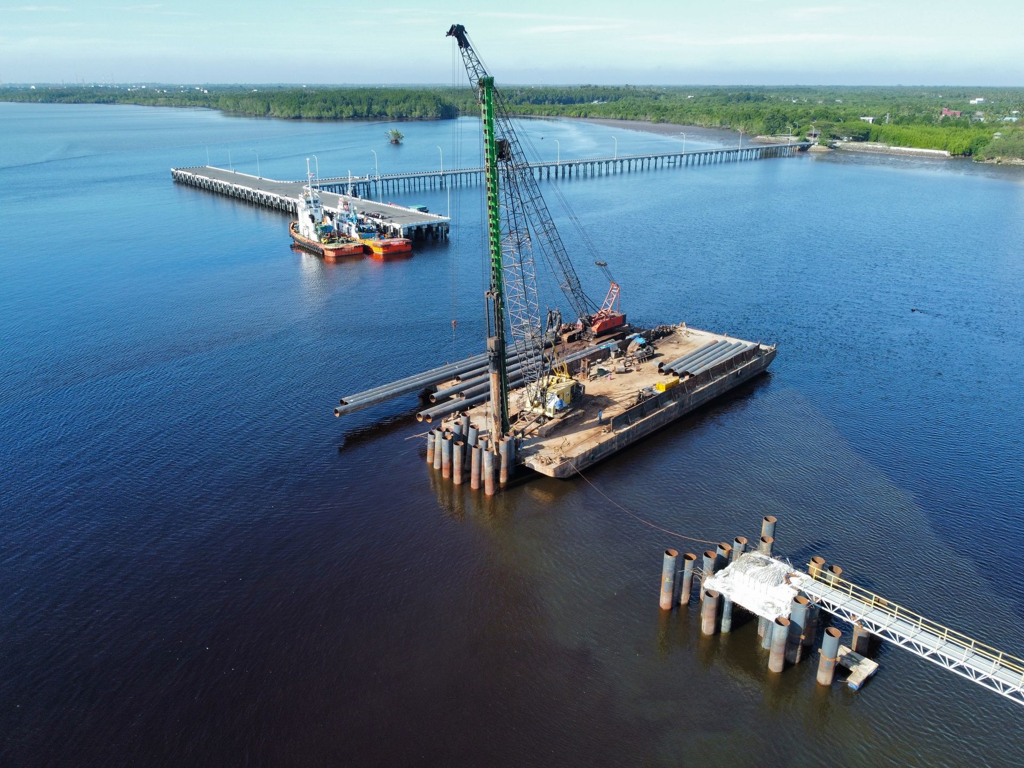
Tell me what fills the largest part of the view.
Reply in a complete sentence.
For the most part, this view shows water.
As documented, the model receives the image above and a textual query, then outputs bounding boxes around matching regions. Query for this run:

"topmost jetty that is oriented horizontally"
[274,142,815,190]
